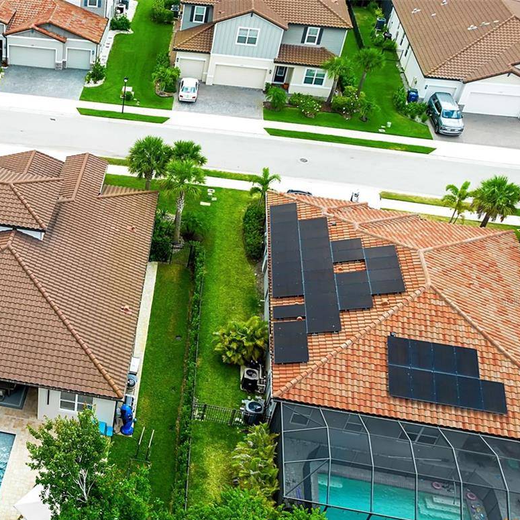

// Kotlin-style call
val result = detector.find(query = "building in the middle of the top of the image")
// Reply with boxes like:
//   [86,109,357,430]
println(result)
[173,0,353,96]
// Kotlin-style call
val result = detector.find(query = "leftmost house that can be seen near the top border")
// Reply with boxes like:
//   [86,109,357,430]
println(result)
[0,0,117,69]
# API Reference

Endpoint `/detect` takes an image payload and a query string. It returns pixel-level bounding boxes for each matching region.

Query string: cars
[172,75,199,102]
[429,96,477,136]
